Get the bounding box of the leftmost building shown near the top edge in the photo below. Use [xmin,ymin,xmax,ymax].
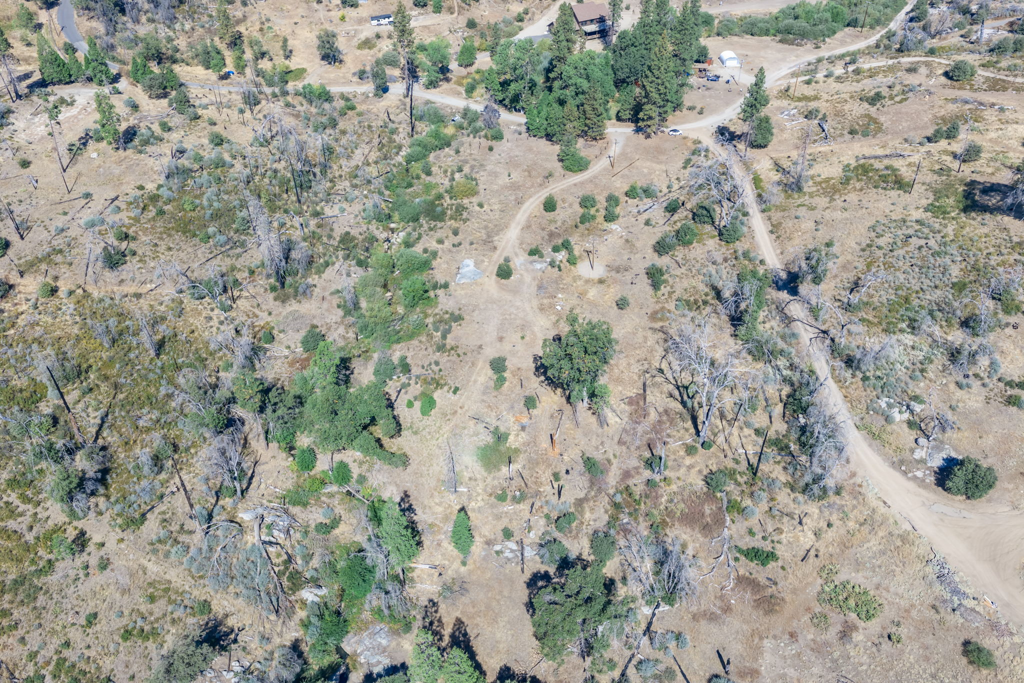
[550,0,612,35]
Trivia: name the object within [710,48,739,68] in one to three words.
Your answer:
shed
